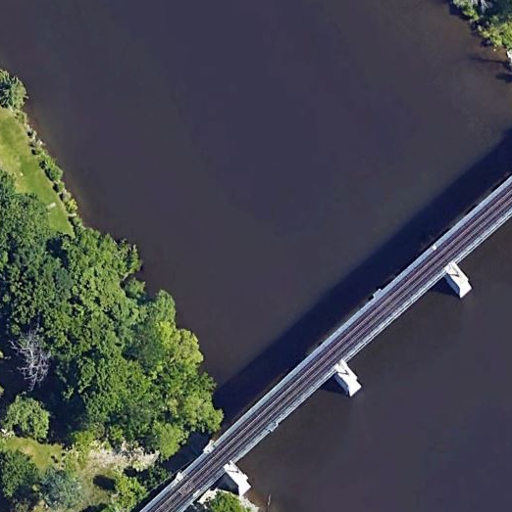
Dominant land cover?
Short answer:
water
